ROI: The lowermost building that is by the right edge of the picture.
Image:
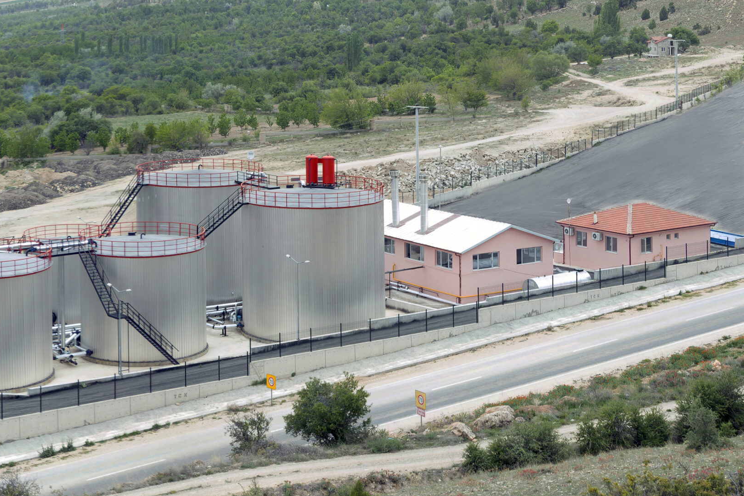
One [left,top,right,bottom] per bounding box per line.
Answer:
[559,198,715,271]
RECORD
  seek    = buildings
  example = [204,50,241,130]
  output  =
[646,30,679,56]
[559,198,715,271]
[383,166,563,304]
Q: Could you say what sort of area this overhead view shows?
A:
industrial area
